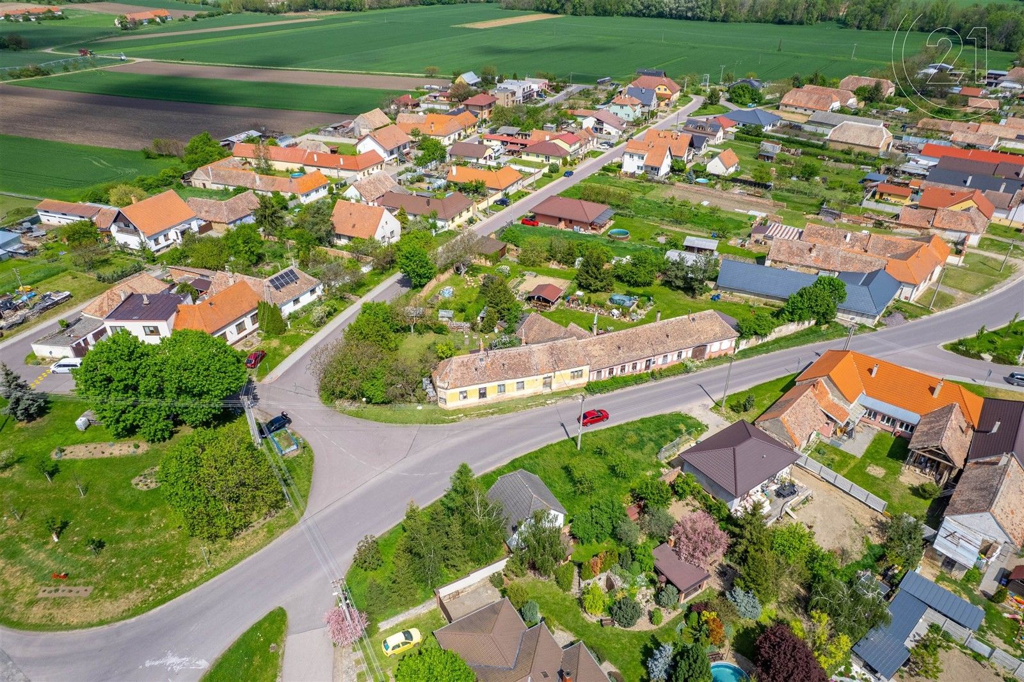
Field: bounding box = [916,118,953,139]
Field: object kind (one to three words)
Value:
house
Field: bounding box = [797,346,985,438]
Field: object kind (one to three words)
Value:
house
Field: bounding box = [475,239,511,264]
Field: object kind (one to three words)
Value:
shed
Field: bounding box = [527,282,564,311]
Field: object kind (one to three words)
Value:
building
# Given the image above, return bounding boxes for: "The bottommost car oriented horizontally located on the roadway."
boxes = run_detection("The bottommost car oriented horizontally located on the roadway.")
[578,410,609,425]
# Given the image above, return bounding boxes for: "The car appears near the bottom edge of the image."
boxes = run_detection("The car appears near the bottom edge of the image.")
[382,630,421,657]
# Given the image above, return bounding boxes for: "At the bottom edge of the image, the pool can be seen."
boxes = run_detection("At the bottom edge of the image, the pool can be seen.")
[706,655,750,682]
